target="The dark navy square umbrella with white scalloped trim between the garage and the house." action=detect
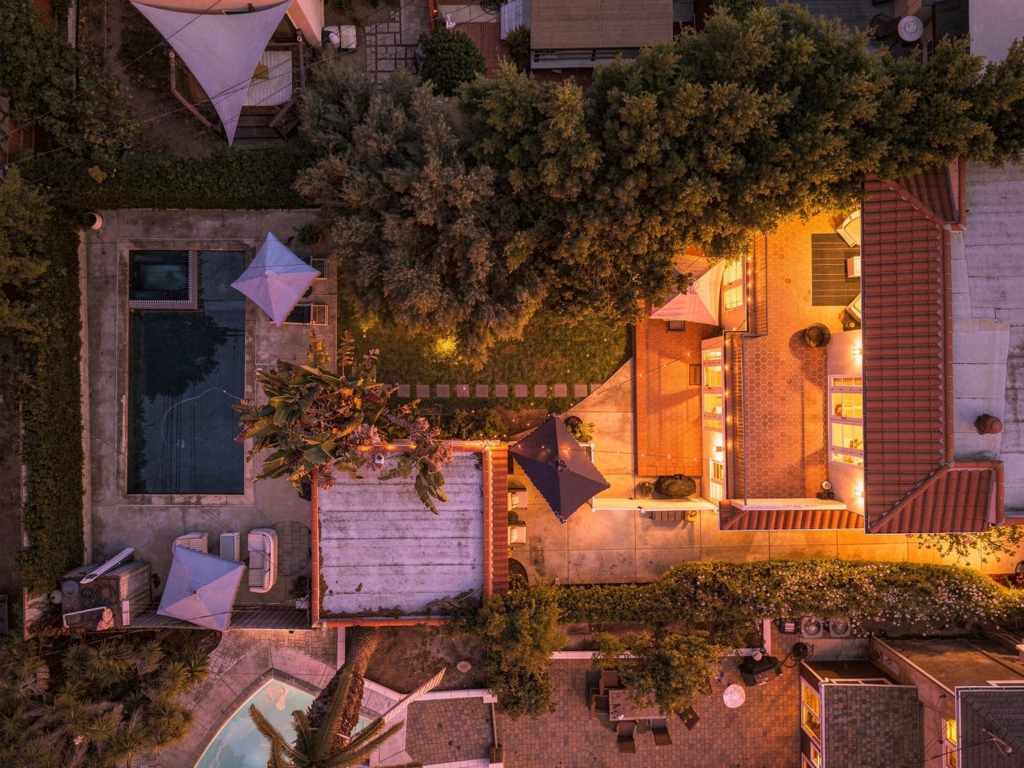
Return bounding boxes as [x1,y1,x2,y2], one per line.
[509,413,610,522]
